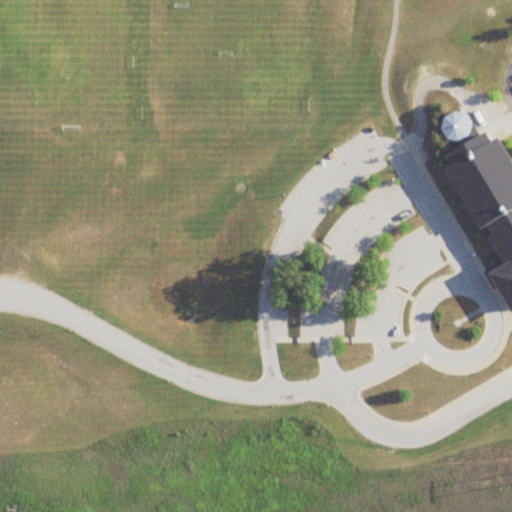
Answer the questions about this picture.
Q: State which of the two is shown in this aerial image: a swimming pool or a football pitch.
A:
football pitch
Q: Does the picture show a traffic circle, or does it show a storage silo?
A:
traffic circle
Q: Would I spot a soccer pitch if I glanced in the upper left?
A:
Yes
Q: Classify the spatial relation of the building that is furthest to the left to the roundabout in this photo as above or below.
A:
above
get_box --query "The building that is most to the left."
[441,110,471,141]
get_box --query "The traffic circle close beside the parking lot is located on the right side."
[411,278,509,374]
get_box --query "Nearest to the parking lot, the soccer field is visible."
[142,70,308,146]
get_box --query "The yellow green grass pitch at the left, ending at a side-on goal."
[0,26,131,98]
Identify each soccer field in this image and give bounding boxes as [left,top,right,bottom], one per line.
[0,26,131,98]
[142,70,308,146]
